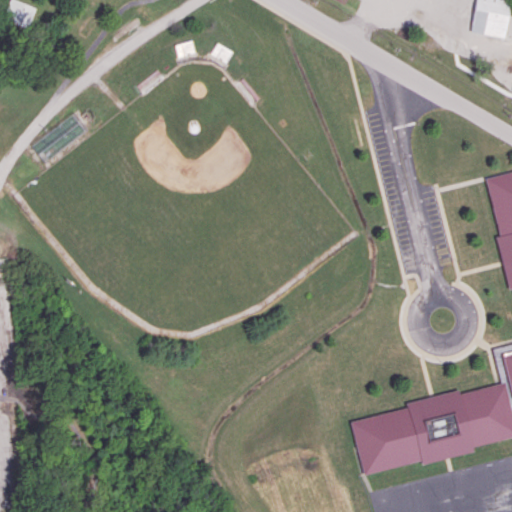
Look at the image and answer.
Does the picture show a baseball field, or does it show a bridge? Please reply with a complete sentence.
It is a baseball field that can be seen here.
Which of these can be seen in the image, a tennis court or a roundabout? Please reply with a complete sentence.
I can see a roundabout in this picture.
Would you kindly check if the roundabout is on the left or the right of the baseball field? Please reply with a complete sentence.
Compared with the baseball field, the roundabout is located further to the right.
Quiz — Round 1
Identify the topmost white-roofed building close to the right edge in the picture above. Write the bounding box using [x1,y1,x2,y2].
[472,0,510,40]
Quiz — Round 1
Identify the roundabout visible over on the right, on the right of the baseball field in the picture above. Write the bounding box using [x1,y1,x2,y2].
[400,279,486,363]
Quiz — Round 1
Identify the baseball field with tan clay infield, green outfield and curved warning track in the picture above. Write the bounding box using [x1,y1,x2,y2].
[8,60,358,340]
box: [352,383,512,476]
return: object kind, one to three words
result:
building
